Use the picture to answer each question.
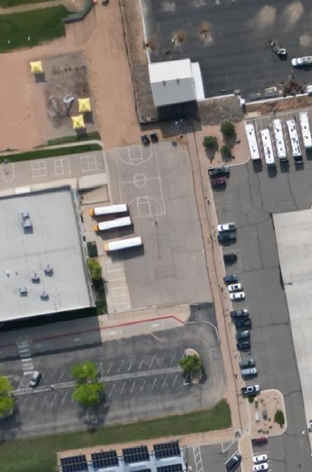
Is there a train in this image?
No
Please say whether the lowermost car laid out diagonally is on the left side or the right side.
right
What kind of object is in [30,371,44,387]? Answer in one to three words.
car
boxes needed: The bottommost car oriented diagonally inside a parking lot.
[224,452,244,472]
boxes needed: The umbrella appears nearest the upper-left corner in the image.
[30,61,46,76]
